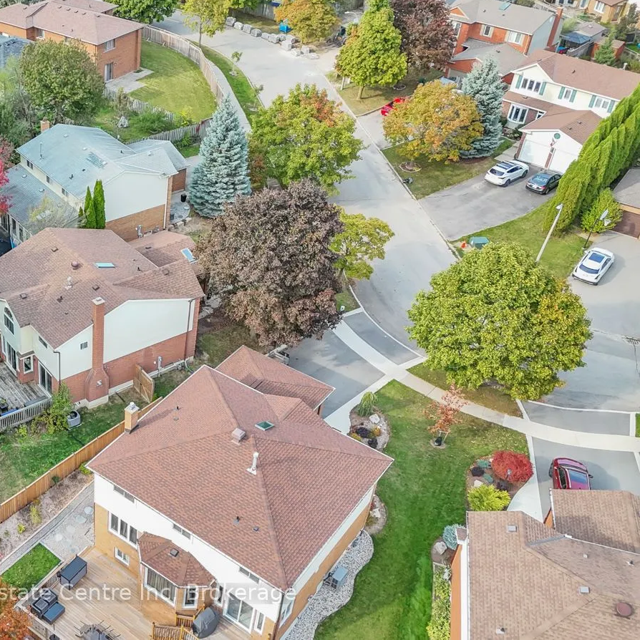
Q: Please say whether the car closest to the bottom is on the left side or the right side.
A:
right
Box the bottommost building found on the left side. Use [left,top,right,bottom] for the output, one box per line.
[84,346,395,640]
